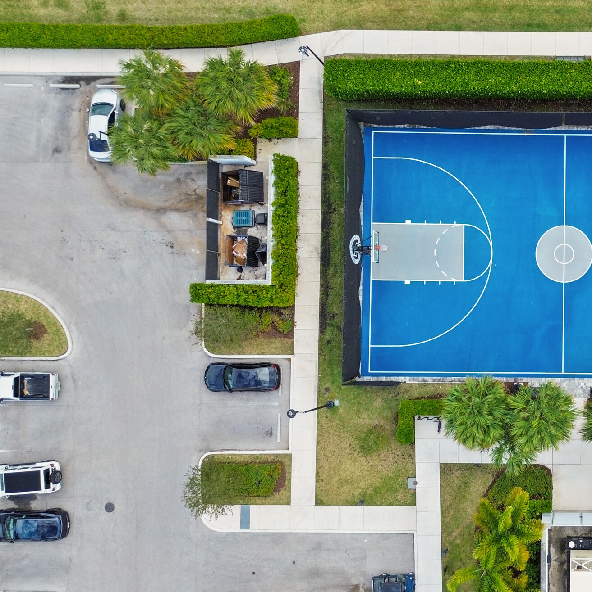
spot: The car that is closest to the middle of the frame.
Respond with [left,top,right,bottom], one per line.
[206,359,284,396]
